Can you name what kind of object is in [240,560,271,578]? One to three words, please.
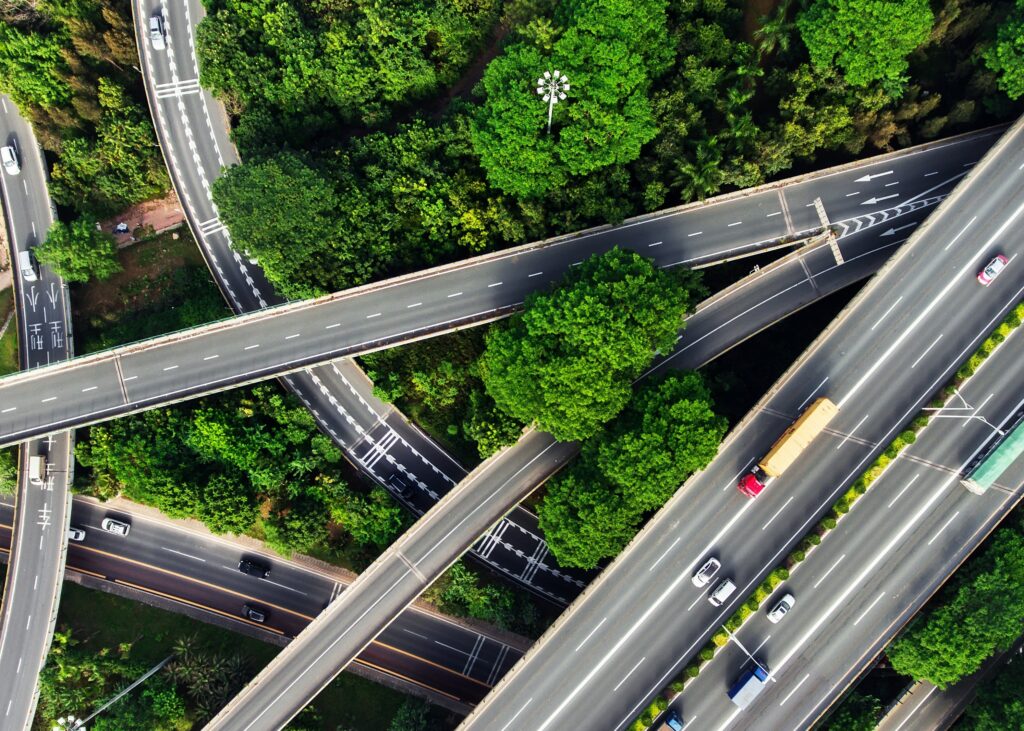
car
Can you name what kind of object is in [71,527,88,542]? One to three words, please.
car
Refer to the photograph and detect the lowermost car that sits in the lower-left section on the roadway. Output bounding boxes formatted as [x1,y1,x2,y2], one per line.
[241,605,268,623]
